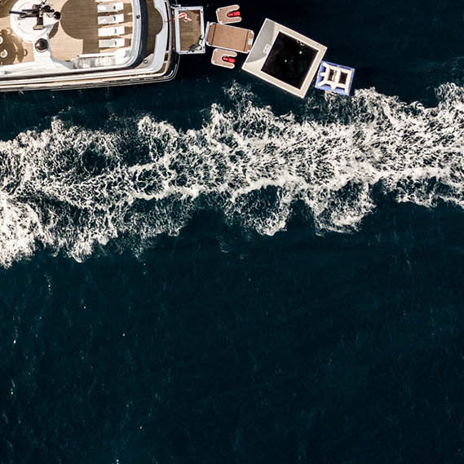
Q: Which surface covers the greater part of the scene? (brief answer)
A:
water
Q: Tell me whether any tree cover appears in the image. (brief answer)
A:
No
